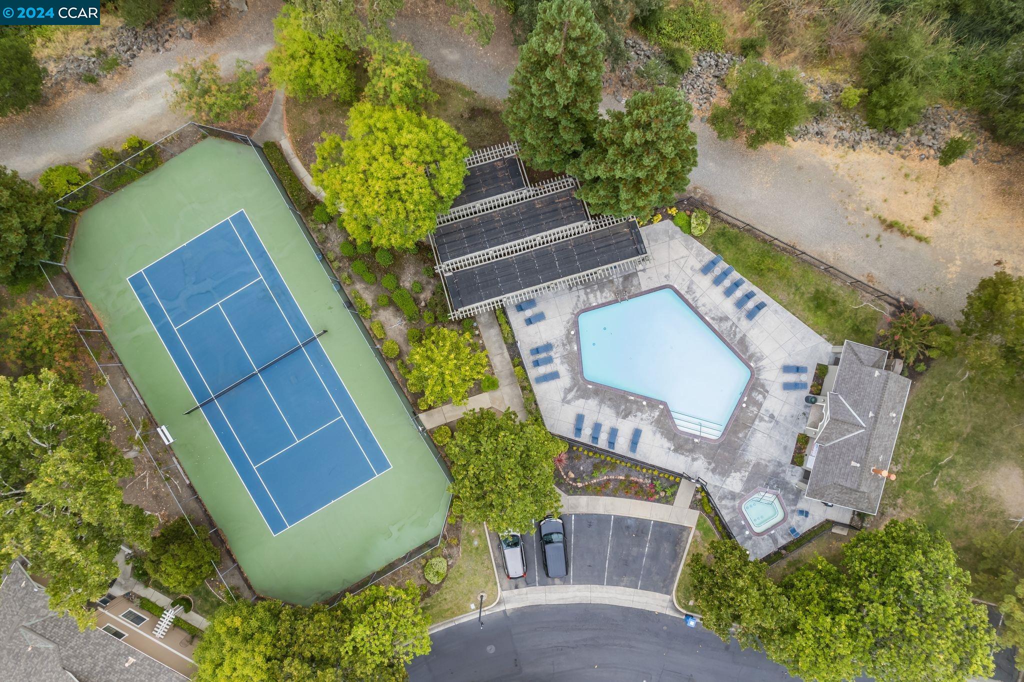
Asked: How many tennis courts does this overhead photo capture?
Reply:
1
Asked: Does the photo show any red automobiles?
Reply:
No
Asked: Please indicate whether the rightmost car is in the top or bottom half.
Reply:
bottom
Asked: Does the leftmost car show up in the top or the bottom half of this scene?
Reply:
bottom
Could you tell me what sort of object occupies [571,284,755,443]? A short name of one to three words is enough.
swimming pool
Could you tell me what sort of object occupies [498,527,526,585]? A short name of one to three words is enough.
car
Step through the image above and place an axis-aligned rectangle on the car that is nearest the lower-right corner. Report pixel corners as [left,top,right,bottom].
[539,515,568,579]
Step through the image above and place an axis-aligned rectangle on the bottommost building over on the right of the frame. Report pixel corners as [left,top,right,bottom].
[798,339,912,515]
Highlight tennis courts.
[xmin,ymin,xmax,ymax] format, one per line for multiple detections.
[66,136,454,606]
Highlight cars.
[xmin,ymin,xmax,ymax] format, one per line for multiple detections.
[498,527,526,585]
[539,515,568,579]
